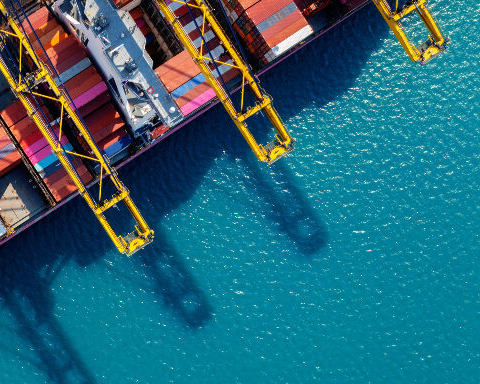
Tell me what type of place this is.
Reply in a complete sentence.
This image shows a port.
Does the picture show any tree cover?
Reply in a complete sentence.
No, no tree cover is visible.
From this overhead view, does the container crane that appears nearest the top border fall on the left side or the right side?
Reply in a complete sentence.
The container crane that appears nearest the top border is on the right side of the image.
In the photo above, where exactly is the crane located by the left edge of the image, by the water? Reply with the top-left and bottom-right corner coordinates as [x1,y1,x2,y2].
[0,0,155,256]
